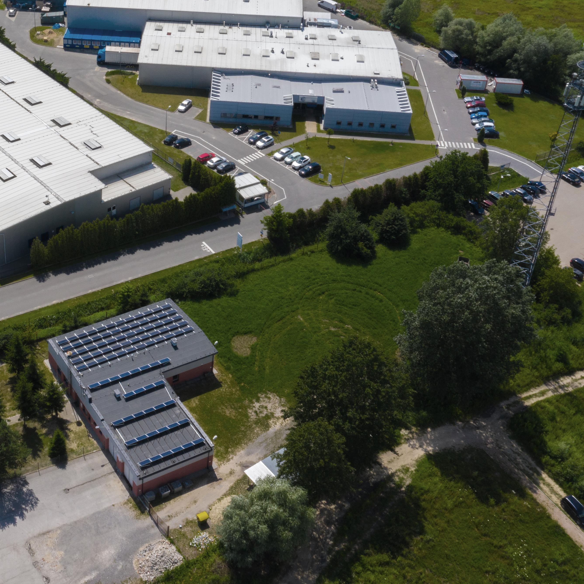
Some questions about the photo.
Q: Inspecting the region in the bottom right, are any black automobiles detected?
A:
Yes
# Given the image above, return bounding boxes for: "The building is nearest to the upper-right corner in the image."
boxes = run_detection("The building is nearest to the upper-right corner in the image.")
[492,75,524,93]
